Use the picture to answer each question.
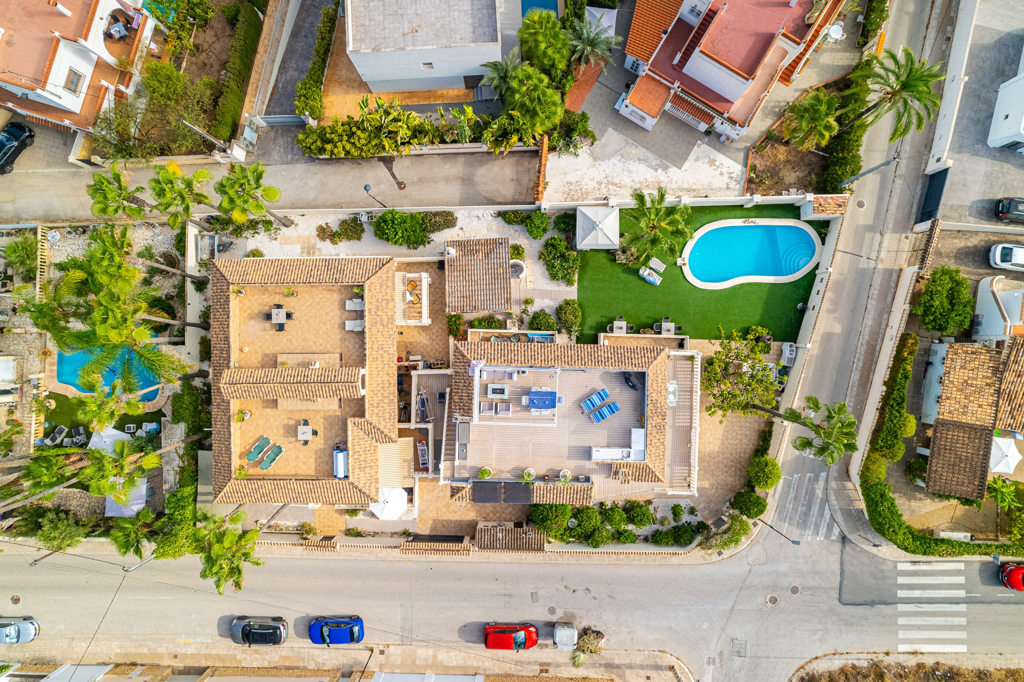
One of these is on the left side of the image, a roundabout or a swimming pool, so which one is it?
swimming pool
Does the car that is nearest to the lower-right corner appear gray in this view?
No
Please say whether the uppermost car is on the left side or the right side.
left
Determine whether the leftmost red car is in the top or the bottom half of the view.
bottom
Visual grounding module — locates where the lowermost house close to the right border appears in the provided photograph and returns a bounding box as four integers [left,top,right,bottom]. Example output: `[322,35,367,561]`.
[907,333,1024,501]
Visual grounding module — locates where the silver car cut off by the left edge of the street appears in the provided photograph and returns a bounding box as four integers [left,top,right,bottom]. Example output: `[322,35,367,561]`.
[0,615,37,646]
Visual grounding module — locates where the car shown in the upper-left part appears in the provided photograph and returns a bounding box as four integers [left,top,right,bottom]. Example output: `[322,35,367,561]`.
[0,119,34,175]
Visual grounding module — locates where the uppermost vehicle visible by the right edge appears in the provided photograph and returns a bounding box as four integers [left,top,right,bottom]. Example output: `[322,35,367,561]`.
[989,198,1024,224]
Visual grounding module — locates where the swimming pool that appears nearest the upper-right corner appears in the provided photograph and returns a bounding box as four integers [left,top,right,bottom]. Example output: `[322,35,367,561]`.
[681,218,823,289]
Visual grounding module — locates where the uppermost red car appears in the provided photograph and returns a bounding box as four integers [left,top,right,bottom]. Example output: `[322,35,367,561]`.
[997,563,1024,594]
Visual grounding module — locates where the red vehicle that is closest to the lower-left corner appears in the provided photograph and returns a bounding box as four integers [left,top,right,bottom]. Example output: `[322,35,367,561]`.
[483,620,538,652]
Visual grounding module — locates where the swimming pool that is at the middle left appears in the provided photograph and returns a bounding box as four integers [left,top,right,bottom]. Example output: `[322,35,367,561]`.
[48,324,170,411]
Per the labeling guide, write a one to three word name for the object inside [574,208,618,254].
gazebo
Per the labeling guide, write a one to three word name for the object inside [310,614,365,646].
car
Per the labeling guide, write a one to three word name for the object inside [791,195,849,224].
building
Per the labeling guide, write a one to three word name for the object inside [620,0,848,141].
house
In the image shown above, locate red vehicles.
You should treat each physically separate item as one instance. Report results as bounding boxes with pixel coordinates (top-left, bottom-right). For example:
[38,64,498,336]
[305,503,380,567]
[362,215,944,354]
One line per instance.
[483,620,538,652]
[997,563,1024,594]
